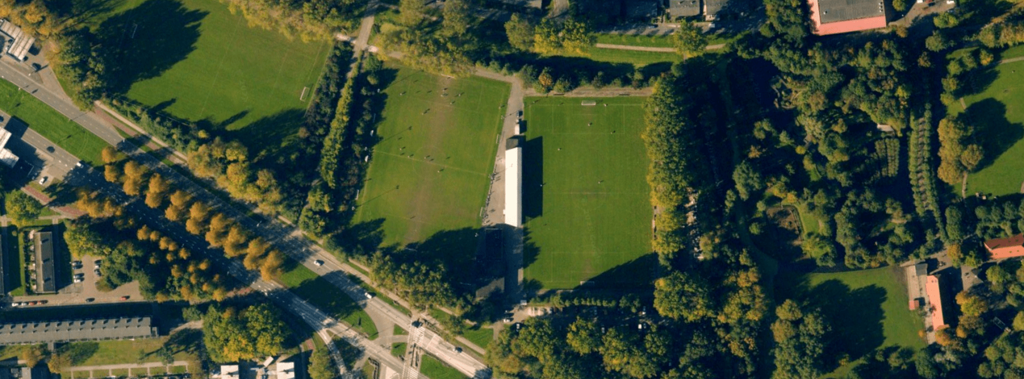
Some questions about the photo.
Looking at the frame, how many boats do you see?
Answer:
0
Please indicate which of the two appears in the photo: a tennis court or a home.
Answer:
home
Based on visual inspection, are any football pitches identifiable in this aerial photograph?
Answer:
Yes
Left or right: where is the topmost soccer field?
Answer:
left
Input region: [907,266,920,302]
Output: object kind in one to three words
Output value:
shed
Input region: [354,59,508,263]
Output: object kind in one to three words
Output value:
soccer field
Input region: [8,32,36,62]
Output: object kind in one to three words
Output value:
building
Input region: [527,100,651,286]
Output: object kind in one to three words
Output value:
soccer field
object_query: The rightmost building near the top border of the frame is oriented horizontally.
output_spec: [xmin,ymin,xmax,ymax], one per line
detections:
[808,0,886,37]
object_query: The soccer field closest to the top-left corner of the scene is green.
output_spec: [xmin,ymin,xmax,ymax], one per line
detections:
[112,0,331,147]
